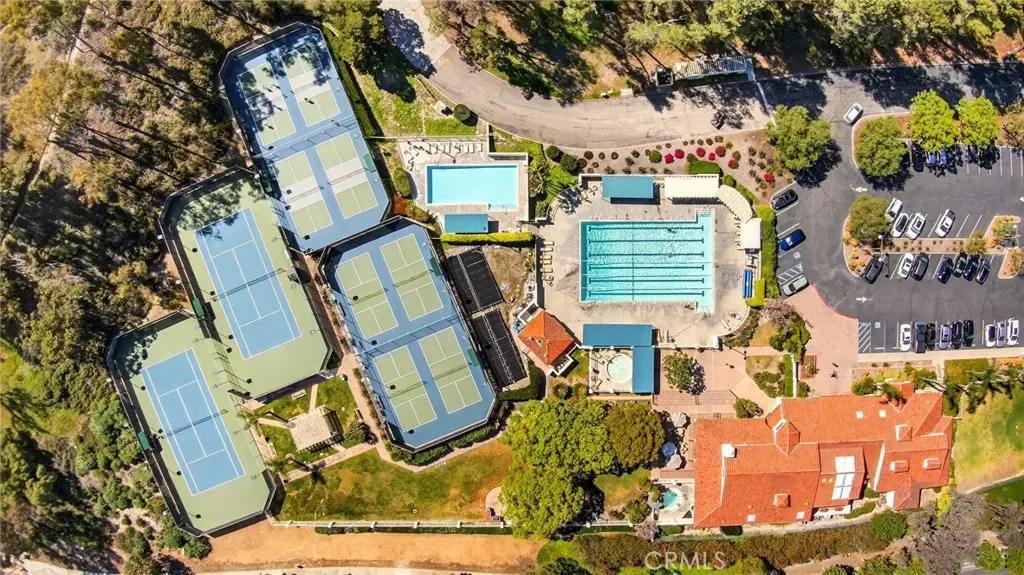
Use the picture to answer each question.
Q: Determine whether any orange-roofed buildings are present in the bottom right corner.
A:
Yes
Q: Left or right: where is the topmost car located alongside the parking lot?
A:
right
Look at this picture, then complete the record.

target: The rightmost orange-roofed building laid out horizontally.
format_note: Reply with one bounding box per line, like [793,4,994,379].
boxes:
[693,384,953,528]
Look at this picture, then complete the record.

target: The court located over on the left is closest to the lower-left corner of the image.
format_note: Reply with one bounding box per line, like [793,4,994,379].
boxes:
[115,317,273,532]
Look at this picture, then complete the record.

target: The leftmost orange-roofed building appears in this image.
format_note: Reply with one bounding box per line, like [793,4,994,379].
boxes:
[517,309,574,365]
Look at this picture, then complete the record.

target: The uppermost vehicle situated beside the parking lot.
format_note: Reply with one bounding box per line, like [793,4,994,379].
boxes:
[840,101,861,127]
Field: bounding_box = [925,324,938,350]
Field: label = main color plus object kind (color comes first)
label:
black vehicle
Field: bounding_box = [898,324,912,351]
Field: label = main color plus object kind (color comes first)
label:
white car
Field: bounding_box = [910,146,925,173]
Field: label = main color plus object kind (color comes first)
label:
black car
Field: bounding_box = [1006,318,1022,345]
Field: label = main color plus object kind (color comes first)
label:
white car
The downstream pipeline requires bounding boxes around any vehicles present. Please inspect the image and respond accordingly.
[890,211,910,238]
[934,209,956,237]
[905,212,926,240]
[898,324,912,351]
[995,321,1008,348]
[925,324,938,350]
[911,320,927,353]
[983,324,997,347]
[950,322,965,349]
[961,252,981,280]
[895,252,915,279]
[910,146,925,173]
[951,251,970,276]
[781,276,809,296]
[935,256,953,283]
[909,252,930,281]
[1006,318,1022,345]
[711,113,723,127]
[840,101,861,127]
[973,258,992,285]
[962,319,976,347]
[884,196,905,223]
[778,229,806,249]
[937,324,952,350]
[862,255,885,284]
[771,189,798,209]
